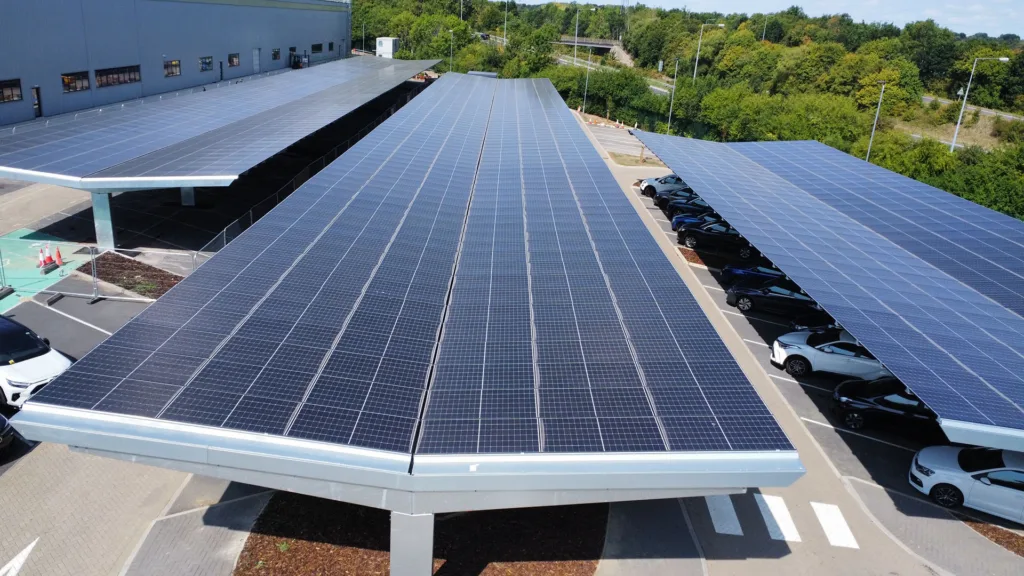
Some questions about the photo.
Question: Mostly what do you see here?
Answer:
buildings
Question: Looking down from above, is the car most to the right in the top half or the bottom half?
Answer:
bottom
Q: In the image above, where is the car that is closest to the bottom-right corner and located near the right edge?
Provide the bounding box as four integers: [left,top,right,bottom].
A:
[908,436,1024,519]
